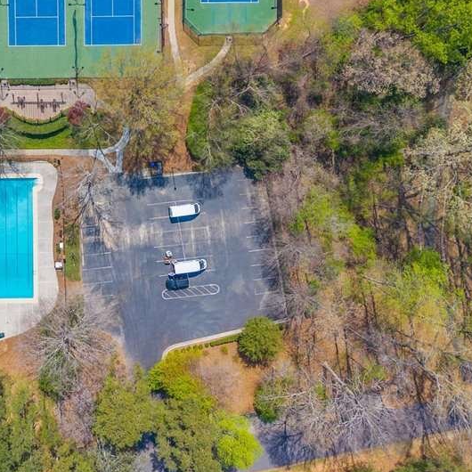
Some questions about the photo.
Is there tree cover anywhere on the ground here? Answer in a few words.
Yes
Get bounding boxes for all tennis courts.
[184,0,278,34]
[0,0,75,79]
[75,0,163,79]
